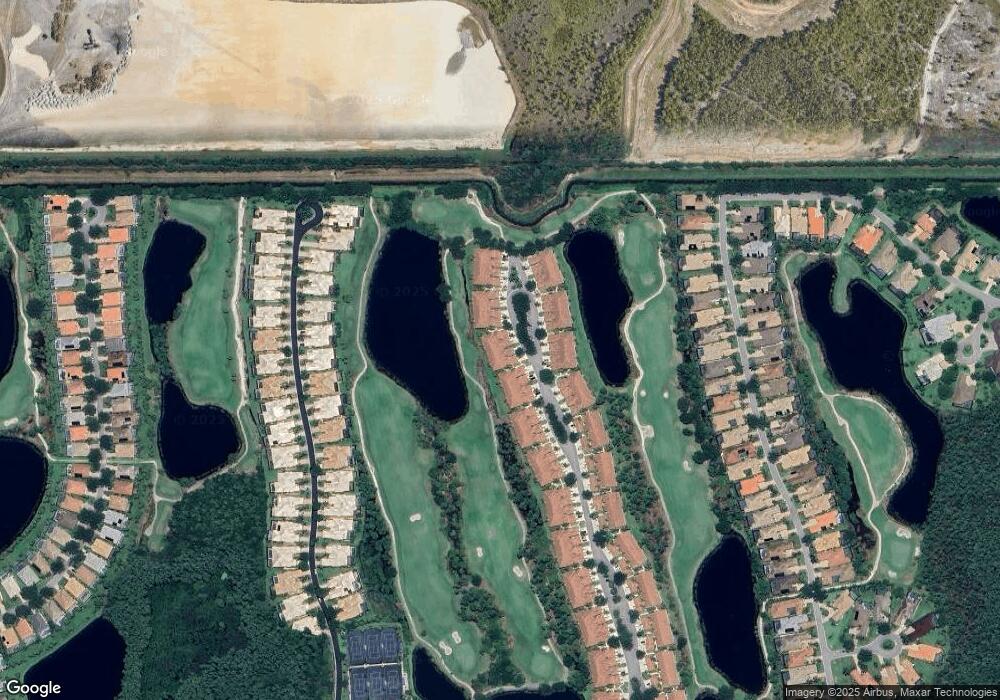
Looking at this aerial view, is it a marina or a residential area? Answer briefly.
residential area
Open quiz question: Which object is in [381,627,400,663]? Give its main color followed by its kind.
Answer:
blue tennis court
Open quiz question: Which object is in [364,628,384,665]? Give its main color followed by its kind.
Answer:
blue tennis court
